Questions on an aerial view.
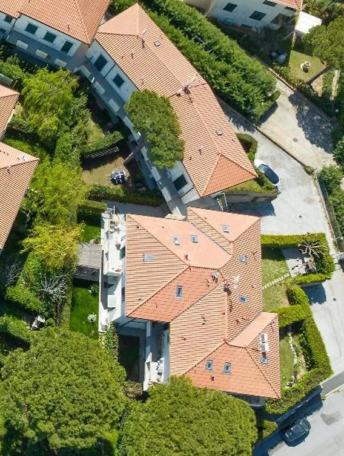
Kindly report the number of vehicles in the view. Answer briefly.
2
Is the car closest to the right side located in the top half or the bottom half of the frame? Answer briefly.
bottom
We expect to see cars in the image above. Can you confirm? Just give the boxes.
[276,419,313,446]
[252,159,285,192]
